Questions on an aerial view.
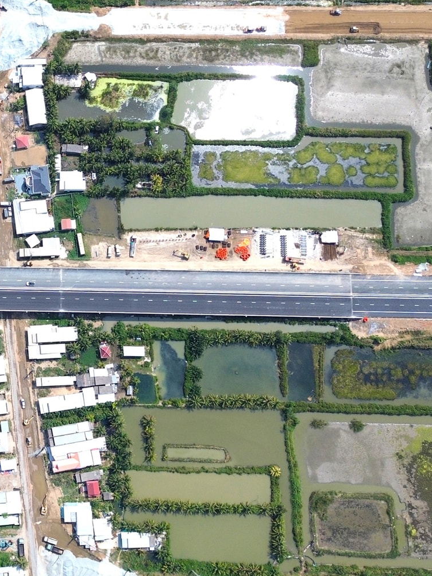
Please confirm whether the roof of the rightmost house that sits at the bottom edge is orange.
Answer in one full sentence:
No, the roof of the rightmost house that sits at the bottom edge is actually white.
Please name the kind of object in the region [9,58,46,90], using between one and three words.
house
